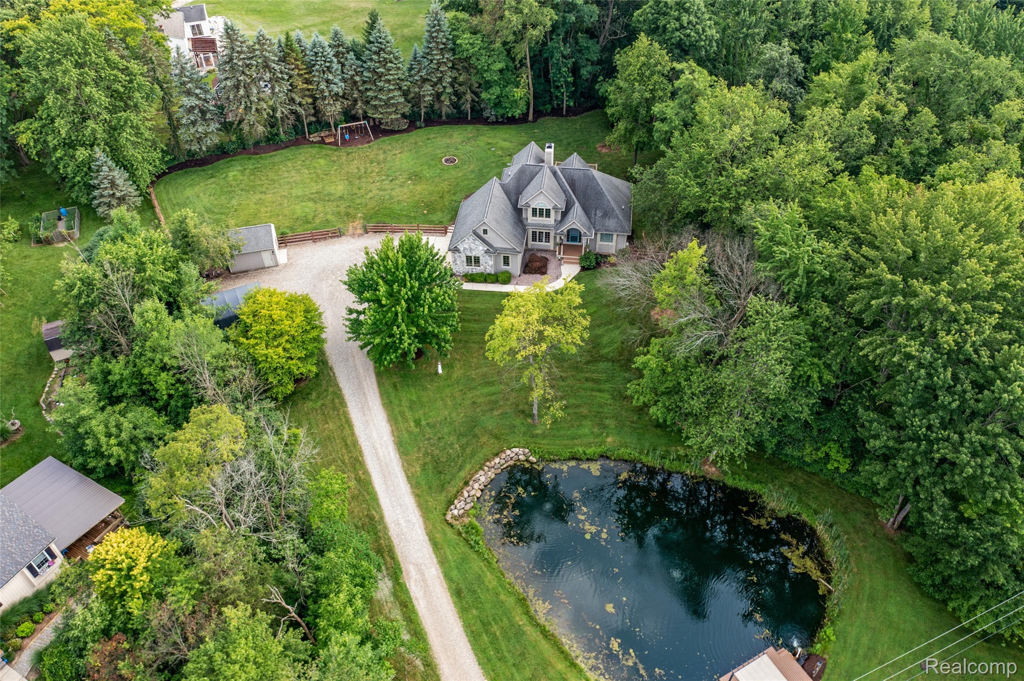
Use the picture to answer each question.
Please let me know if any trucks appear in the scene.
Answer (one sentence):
No, there's no truck here.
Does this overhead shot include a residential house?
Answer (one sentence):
Yes, a residential house is visible in the scene.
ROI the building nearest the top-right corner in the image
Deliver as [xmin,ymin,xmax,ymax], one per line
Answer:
[447,139,633,275]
